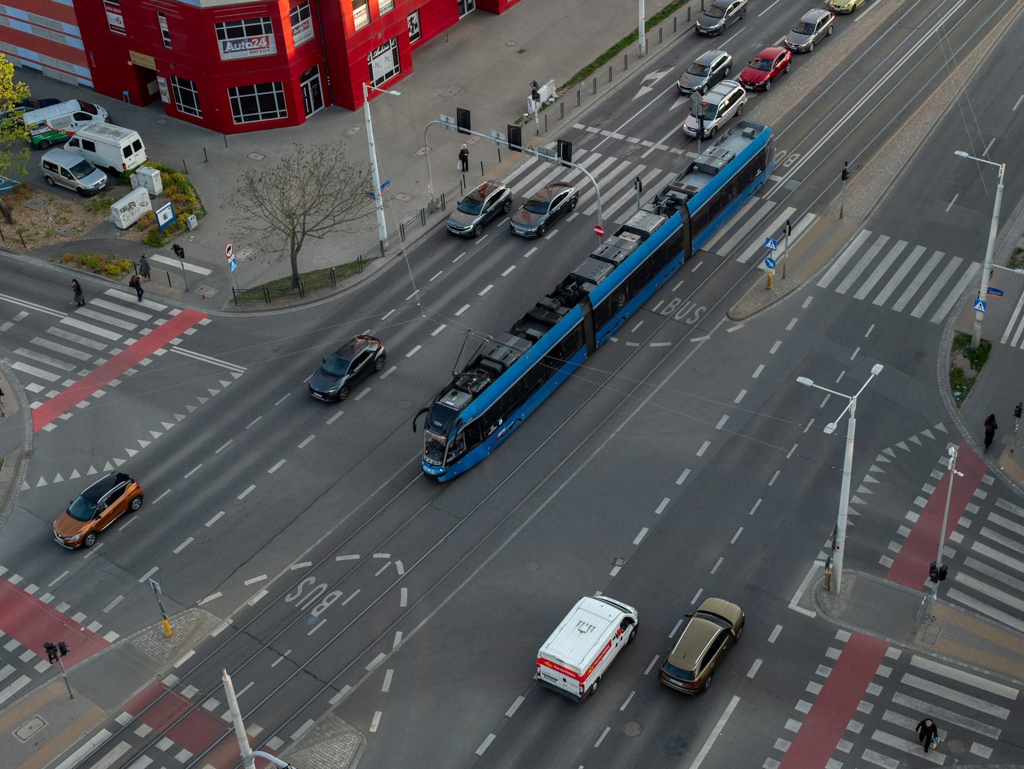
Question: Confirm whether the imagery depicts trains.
Yes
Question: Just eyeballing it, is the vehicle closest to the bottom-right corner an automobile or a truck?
automobile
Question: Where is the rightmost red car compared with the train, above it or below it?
above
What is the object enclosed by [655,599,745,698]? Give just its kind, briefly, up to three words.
car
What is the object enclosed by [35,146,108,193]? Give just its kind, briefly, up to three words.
vehicle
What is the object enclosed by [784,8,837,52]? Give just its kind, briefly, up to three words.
car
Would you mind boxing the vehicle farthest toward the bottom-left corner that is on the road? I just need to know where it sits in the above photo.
[49,471,145,548]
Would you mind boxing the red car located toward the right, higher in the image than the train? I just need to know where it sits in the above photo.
[739,46,796,90]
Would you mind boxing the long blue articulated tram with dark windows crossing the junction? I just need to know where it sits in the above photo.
[402,124,771,482]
